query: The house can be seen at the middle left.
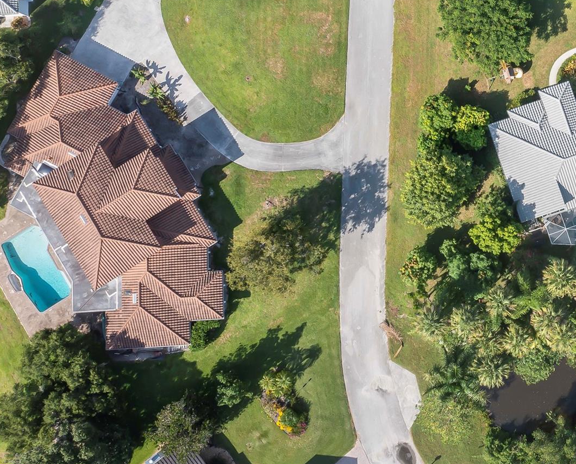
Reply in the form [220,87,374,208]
[2,49,229,351]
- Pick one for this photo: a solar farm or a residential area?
residential area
